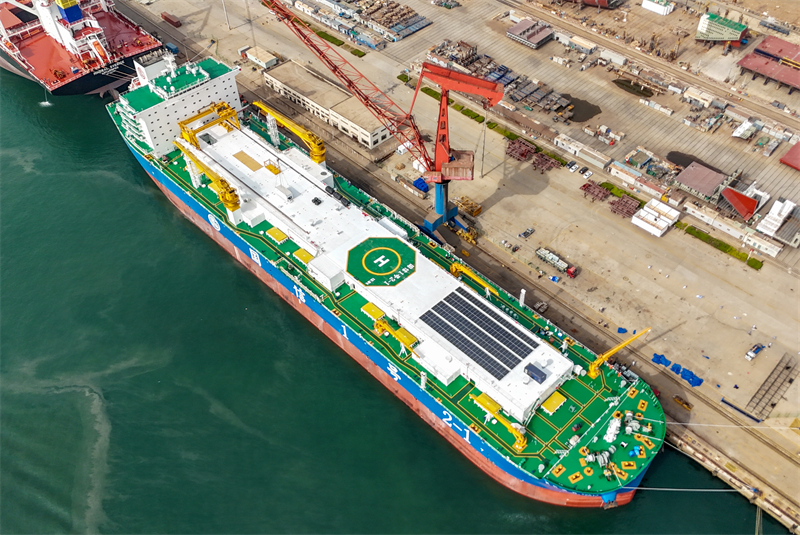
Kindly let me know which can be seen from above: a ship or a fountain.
ship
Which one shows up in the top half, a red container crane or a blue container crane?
red container crane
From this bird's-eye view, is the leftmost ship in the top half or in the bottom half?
top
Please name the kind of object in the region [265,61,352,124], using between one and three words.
building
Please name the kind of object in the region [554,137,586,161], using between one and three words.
building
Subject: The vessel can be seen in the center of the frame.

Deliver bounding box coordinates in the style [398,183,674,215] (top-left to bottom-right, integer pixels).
[105,47,659,512]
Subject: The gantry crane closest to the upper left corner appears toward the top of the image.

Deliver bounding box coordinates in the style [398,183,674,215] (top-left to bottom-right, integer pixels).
[180,97,240,148]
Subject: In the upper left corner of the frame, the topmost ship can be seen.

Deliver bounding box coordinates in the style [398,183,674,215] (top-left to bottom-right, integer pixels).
[0,0,158,109]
